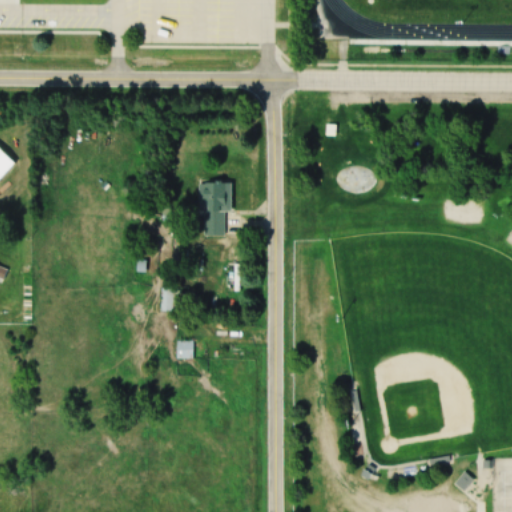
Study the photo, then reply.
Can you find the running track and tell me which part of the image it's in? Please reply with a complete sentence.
The running track is in the top right part of the image.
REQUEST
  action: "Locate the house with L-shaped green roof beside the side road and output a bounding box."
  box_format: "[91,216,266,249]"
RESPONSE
[199,179,232,234]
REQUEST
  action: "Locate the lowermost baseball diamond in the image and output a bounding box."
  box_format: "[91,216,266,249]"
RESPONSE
[334,232,512,465]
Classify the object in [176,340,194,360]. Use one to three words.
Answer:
shed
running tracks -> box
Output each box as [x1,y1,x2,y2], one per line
[322,0,512,40]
